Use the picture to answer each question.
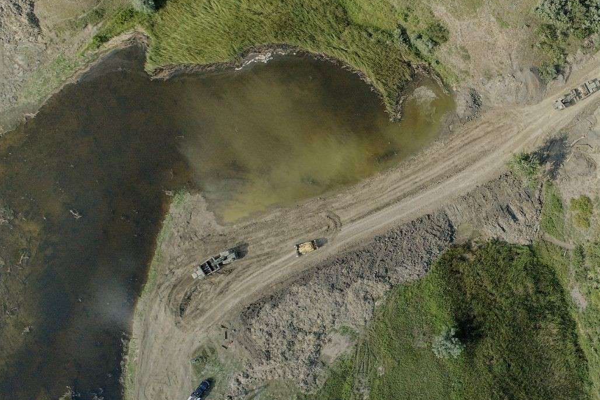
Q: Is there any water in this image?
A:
Yes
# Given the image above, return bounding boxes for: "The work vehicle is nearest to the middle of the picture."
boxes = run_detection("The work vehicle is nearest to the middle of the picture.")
[294,239,319,258]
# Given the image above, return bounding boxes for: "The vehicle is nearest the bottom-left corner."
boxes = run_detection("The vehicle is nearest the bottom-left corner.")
[187,381,209,400]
